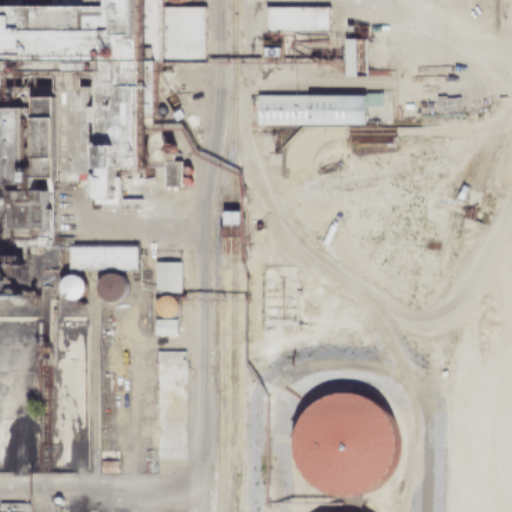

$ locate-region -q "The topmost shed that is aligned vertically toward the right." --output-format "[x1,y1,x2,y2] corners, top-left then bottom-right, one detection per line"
[346,39,360,78]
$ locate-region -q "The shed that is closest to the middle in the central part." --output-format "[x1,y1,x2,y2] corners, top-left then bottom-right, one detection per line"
[222,211,242,227]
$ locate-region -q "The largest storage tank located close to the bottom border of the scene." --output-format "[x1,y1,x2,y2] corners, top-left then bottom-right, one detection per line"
[292,392,402,496]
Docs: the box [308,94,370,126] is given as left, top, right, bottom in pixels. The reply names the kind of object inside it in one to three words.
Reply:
building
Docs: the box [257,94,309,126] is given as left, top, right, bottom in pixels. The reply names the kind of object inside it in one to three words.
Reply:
building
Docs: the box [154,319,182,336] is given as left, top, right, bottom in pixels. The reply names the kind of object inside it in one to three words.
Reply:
shed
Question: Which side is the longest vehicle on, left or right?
right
